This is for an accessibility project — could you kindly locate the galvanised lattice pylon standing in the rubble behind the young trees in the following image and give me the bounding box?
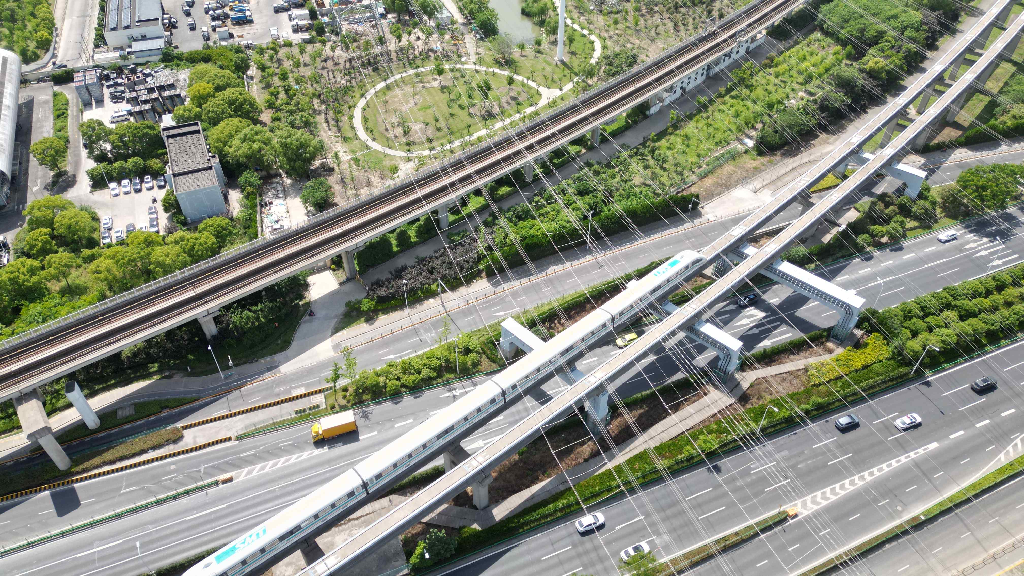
[337,0,389,51]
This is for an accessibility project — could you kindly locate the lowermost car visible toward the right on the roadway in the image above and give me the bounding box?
[619,540,652,561]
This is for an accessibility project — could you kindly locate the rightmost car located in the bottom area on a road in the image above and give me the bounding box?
[970,378,998,394]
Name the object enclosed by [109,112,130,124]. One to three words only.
vehicle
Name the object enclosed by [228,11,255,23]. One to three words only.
vehicle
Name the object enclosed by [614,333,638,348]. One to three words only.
car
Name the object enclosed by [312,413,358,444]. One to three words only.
truck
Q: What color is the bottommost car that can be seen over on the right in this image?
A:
white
